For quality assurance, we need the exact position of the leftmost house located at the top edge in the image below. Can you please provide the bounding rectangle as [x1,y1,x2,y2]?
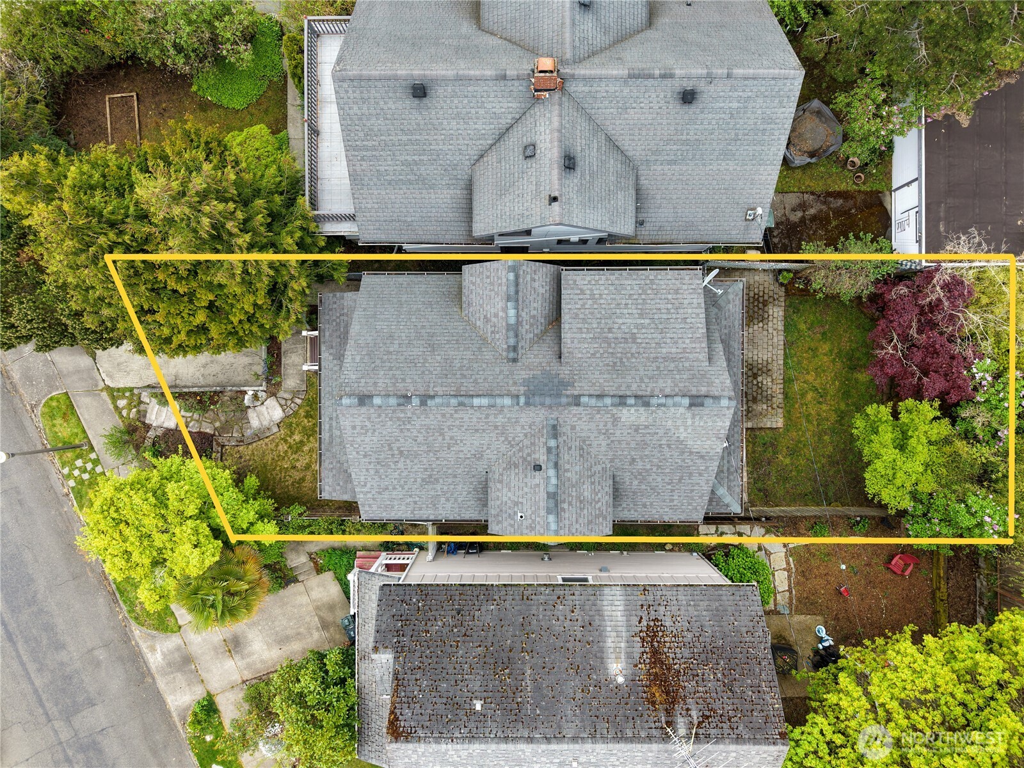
[305,0,807,256]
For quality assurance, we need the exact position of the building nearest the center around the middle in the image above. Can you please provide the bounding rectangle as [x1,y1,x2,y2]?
[302,258,747,553]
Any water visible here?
No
